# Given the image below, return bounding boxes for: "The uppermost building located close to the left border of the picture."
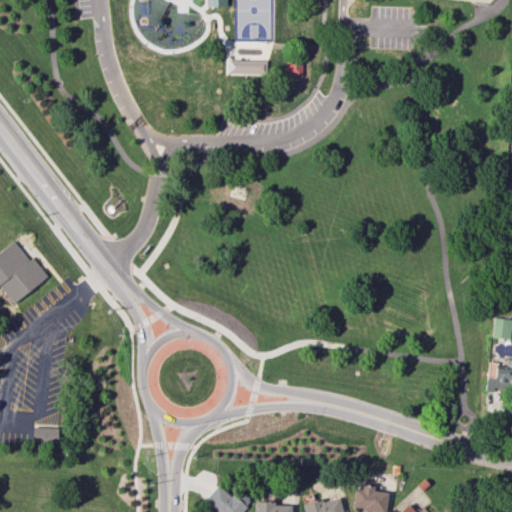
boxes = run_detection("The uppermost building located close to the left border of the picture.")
[0,242,50,303]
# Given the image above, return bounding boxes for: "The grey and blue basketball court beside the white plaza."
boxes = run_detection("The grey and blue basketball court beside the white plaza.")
[235,0,274,41]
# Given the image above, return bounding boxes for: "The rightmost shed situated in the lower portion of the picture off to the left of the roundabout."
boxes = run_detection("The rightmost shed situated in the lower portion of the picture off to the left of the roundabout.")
[34,428,60,442]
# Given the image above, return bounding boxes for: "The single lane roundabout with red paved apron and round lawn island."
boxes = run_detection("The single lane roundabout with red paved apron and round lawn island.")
[136,302,308,463]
